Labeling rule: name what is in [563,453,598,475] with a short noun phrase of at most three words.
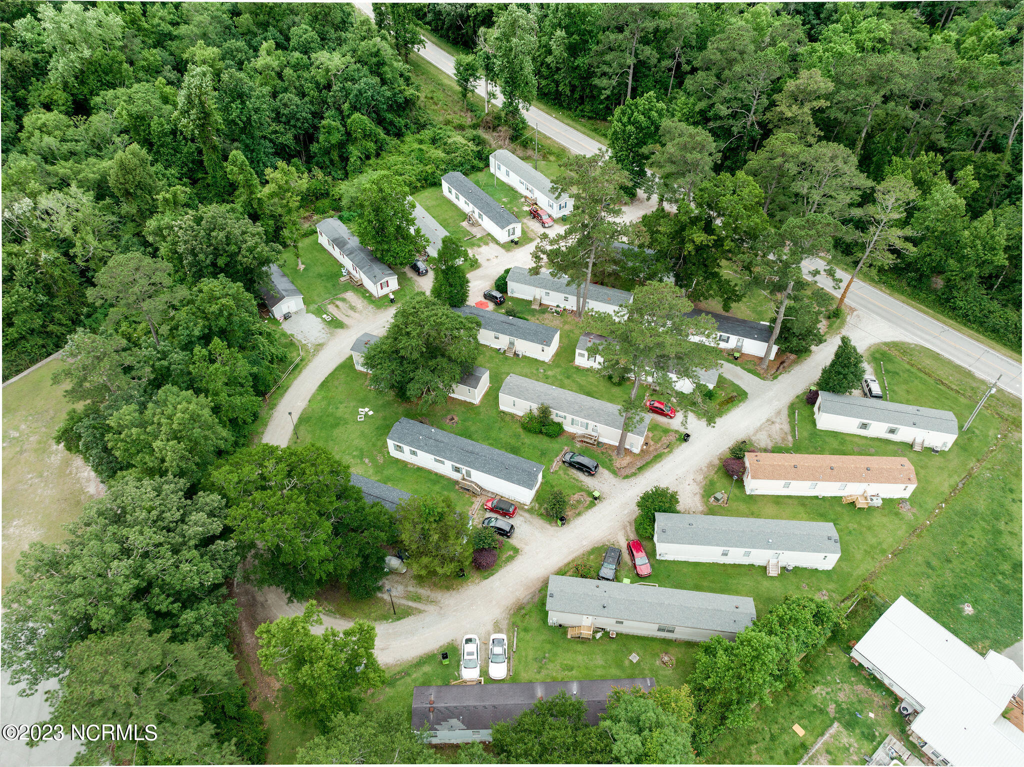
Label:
car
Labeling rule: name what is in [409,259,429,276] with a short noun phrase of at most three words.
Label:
car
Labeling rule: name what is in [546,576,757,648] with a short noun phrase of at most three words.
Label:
house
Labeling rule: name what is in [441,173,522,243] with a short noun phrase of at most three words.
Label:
house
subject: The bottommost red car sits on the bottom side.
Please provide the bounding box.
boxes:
[627,540,650,576]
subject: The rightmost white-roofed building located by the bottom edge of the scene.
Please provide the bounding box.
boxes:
[845,594,1024,767]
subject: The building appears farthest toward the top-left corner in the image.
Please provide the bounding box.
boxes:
[260,267,306,319]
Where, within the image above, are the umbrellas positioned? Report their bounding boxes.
[474,299,491,312]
